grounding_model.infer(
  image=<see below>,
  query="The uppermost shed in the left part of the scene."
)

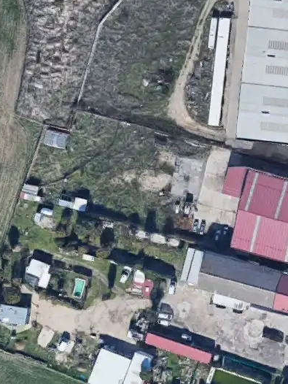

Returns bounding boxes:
[43,127,72,150]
